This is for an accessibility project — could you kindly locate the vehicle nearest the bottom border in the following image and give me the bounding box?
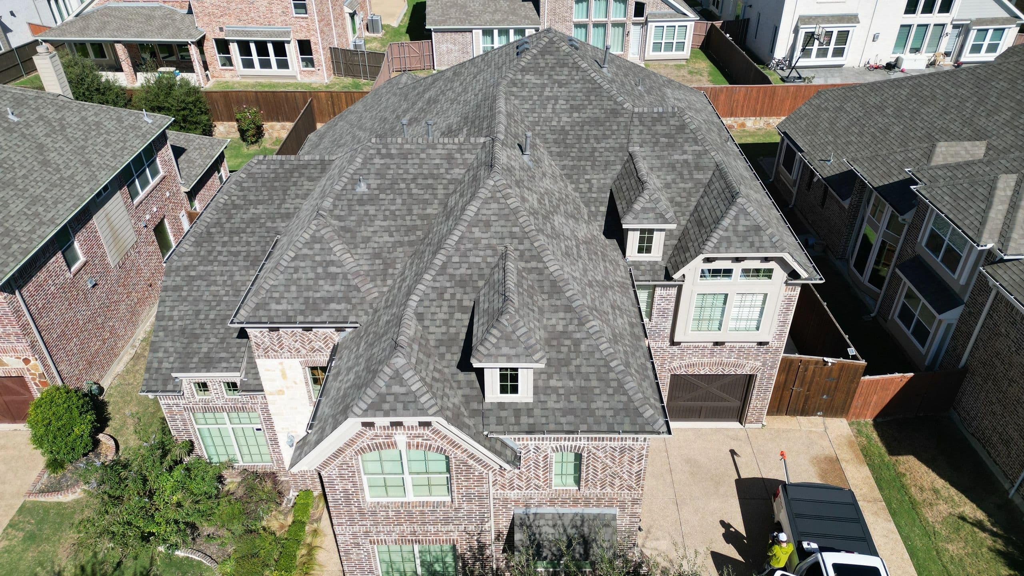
[772,479,902,576]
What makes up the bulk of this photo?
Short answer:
buildings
